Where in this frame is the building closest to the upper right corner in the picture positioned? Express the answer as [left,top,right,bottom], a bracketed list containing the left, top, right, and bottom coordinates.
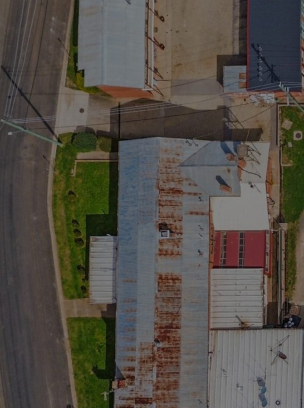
[224,0,304,99]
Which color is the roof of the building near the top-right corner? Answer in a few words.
black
